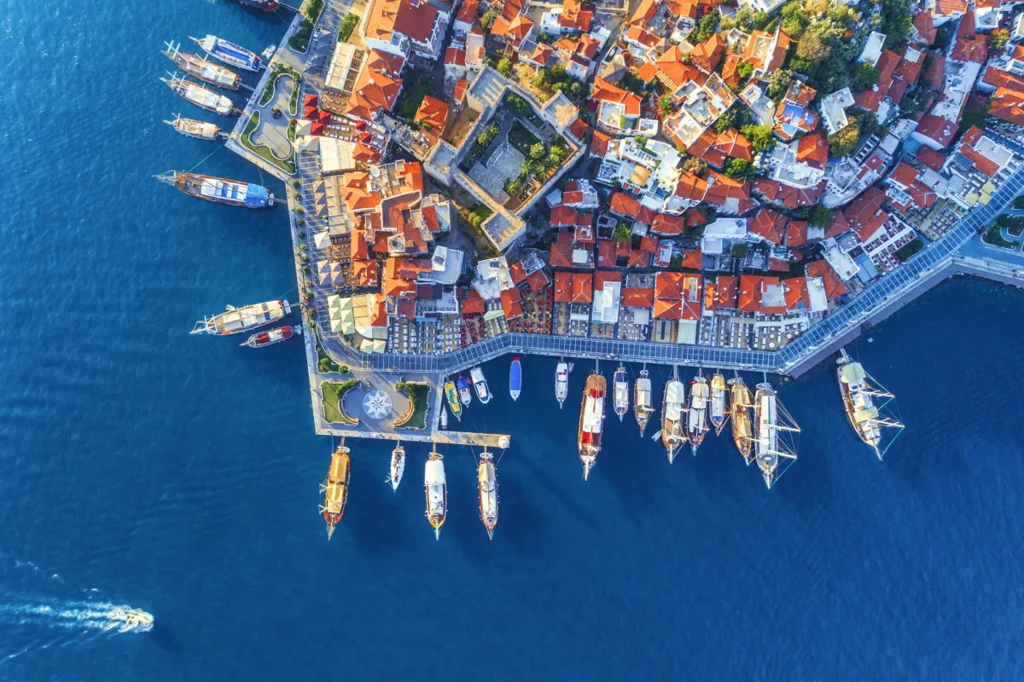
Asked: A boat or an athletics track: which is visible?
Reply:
boat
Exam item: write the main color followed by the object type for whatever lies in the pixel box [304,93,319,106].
red umbrella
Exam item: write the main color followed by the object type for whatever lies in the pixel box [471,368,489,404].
white boat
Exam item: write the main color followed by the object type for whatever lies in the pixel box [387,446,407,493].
white boat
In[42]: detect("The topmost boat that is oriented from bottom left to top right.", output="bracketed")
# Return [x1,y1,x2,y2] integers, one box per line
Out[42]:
[260,43,276,58]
